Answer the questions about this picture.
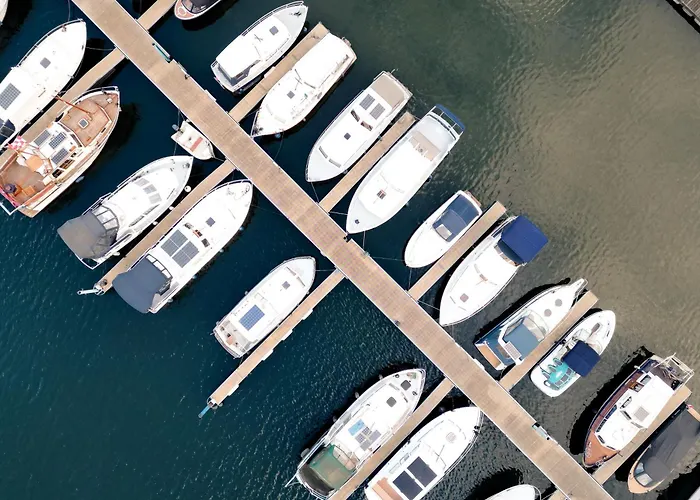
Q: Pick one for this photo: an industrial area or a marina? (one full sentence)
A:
What you see here is a marina.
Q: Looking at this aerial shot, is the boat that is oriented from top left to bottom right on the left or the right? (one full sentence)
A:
You can find the boat that is oriented from top left to bottom right on the left side of the picture.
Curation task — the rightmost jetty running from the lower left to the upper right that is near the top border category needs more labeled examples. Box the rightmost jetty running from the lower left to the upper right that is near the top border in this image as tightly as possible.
[226,22,330,125]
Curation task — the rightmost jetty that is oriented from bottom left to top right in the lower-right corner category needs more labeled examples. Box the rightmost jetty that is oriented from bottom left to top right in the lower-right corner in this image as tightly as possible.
[590,387,692,490]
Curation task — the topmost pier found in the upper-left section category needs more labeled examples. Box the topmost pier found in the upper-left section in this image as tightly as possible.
[133,0,172,33]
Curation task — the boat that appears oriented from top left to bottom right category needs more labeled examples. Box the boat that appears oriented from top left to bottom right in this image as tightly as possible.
[171,119,213,159]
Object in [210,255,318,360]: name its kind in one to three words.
boat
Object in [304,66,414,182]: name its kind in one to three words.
boat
